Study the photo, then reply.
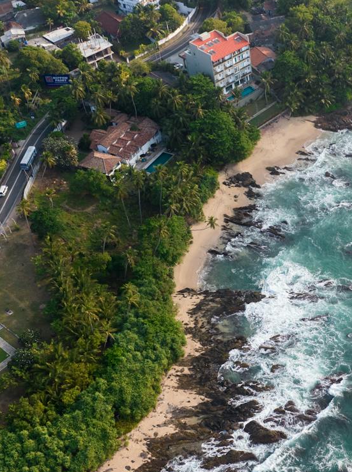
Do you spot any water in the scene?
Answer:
Yes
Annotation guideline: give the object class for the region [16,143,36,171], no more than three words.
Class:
vehicle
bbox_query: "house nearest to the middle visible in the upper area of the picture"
[76,116,182,177]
